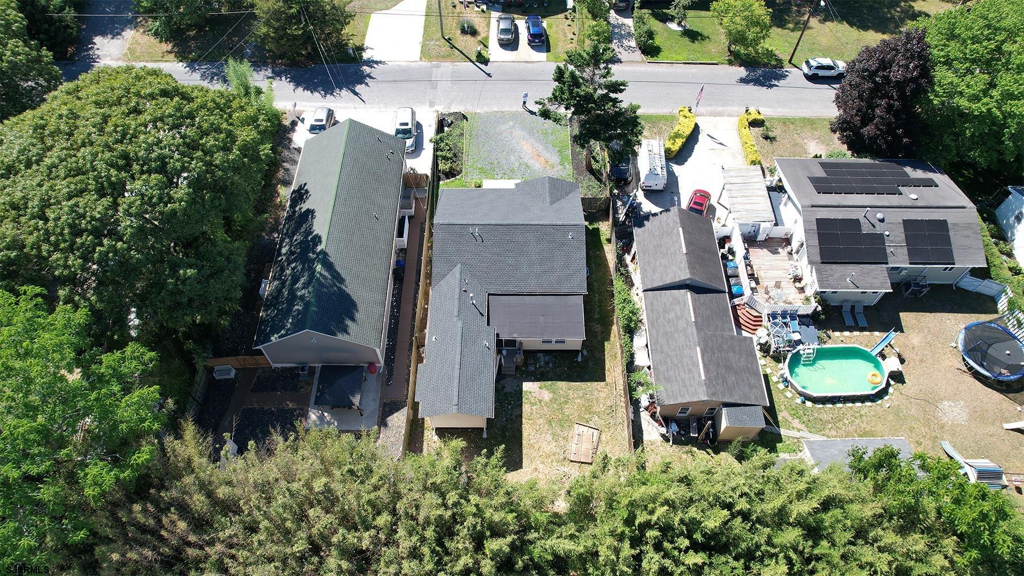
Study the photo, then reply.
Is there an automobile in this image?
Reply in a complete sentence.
Yes, the photo shows an automobile.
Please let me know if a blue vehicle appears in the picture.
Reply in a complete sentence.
Yes, there is a blue vehicle in the image.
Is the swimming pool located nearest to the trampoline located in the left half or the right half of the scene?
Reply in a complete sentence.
It is on the right.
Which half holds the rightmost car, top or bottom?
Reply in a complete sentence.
The top half of the photo is where the rightmost car is.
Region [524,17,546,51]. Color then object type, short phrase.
blue car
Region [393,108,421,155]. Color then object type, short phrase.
white car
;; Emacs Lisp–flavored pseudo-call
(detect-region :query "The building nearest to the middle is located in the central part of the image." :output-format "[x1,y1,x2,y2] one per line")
[415,172,587,429]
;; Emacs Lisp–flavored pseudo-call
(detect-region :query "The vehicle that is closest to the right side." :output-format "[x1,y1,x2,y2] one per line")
[797,57,850,84]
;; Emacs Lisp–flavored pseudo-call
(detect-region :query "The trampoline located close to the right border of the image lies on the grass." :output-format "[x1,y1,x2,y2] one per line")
[952,304,1024,387]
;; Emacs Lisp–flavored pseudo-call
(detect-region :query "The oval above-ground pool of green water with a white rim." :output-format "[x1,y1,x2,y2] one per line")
[783,345,889,403]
